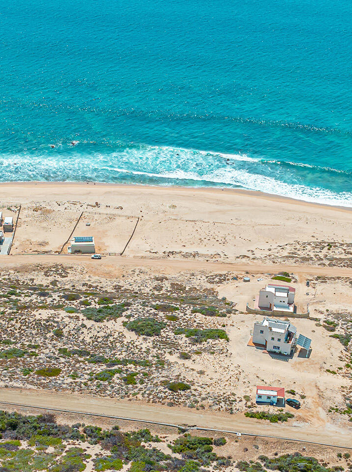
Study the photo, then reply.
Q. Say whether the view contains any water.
Yes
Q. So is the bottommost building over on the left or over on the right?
right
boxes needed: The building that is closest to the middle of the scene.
[67,235,96,254]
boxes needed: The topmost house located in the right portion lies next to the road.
[254,280,297,313]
